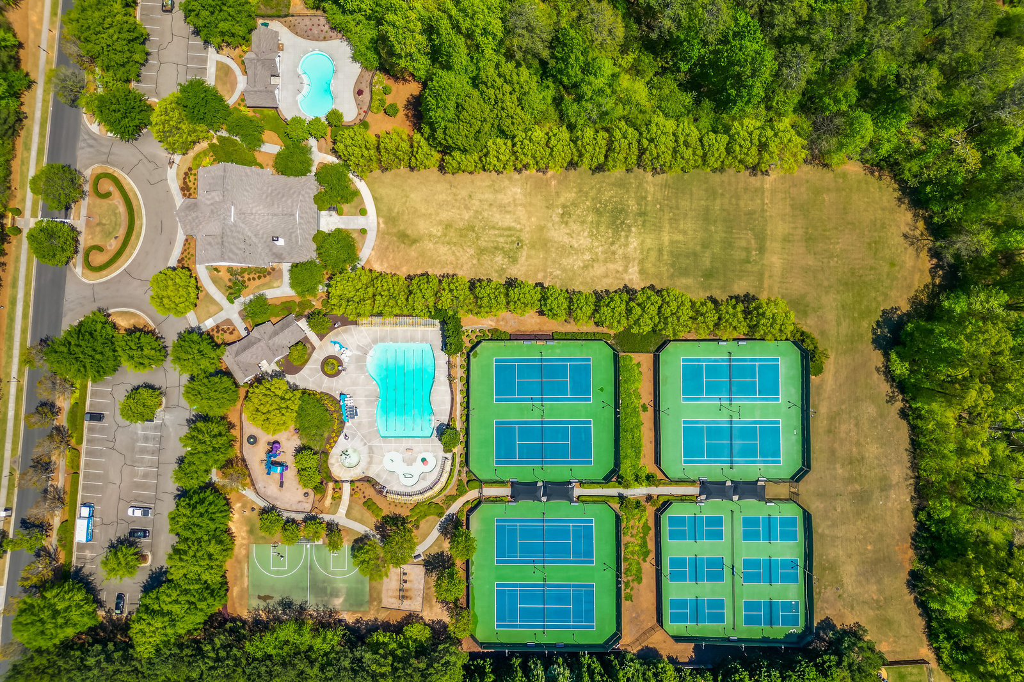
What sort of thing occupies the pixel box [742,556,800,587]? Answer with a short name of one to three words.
sports court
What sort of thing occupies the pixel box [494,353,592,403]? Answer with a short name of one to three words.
tennis court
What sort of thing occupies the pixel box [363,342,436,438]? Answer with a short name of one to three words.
swimming pool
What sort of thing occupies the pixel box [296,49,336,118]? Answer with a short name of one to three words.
swimming pool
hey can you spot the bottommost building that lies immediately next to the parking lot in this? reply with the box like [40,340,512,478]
[222,313,308,385]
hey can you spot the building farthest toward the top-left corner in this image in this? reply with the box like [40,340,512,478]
[243,25,284,110]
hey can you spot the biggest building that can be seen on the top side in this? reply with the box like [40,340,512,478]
[175,162,321,268]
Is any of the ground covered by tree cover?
Yes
